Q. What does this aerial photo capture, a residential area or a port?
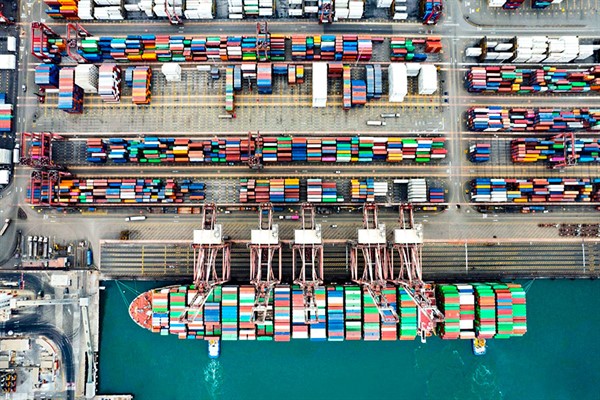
port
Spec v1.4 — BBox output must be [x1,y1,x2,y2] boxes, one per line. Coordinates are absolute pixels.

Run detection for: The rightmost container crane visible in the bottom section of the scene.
[379,202,444,331]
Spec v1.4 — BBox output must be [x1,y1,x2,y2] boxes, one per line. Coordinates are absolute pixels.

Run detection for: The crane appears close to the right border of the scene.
[545,129,577,168]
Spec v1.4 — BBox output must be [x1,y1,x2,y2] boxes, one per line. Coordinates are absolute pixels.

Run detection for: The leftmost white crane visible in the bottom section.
[180,202,242,331]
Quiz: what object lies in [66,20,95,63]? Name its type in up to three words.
crane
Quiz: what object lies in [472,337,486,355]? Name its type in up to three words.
boat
